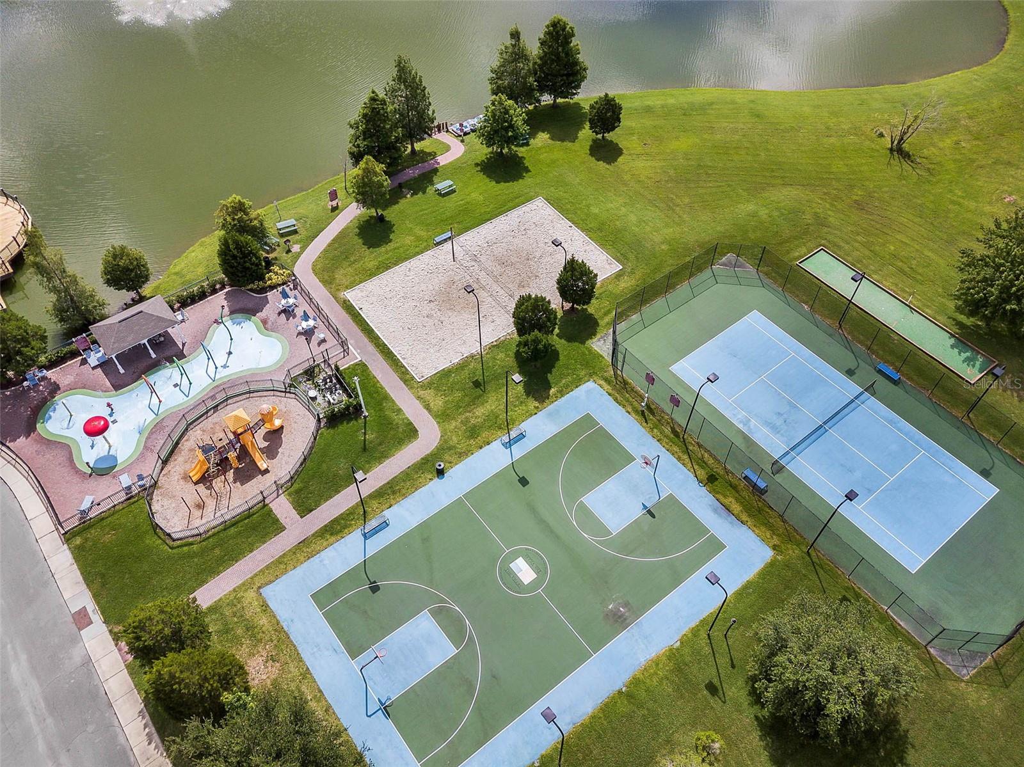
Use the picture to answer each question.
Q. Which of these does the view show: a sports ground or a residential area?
sports ground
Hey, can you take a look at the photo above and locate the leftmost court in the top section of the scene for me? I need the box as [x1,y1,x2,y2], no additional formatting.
[344,196,623,382]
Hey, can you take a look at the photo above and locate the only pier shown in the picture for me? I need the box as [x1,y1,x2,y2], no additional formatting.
[0,190,34,312]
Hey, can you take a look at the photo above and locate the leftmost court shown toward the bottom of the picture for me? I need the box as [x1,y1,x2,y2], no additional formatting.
[262,382,773,767]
